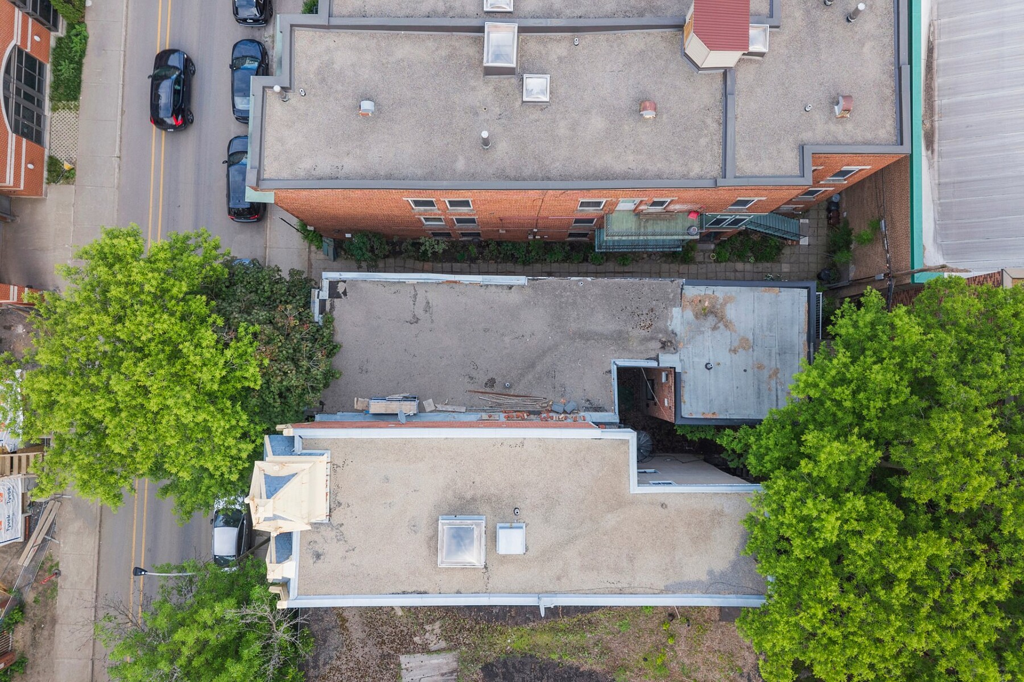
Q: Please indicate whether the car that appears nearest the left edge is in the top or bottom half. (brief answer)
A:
top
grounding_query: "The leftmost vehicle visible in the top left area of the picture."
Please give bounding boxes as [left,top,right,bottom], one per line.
[148,50,194,127]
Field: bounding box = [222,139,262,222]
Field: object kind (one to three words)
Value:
car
